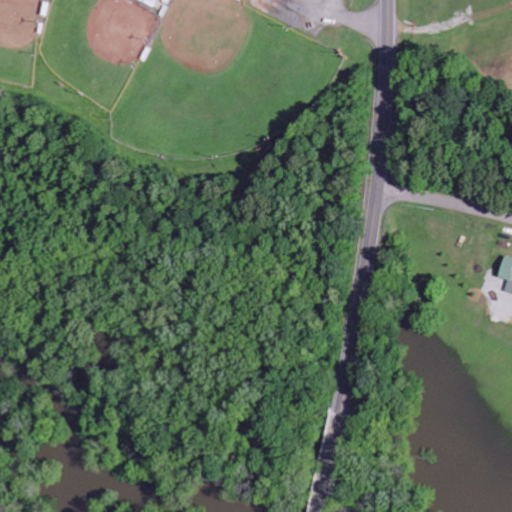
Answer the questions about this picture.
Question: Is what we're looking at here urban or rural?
rural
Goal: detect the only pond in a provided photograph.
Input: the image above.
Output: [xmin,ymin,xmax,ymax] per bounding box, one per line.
[386,326,512,512]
